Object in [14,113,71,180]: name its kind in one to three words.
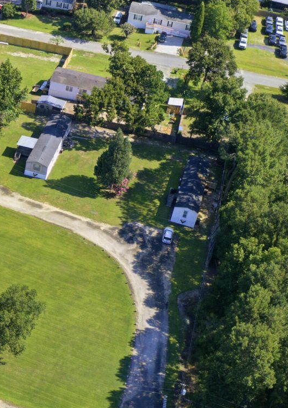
house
